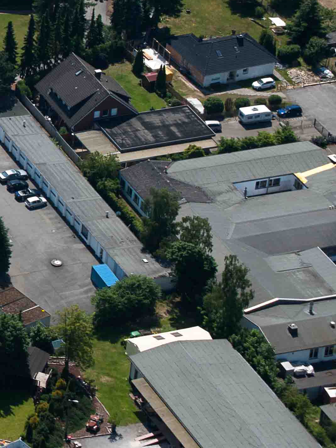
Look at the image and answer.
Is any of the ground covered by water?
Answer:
No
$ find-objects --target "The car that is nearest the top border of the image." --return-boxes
[251,76,276,90]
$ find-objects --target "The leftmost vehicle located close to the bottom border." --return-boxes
[87,413,102,434]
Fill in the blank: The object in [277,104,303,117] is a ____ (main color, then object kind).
blue vehicle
